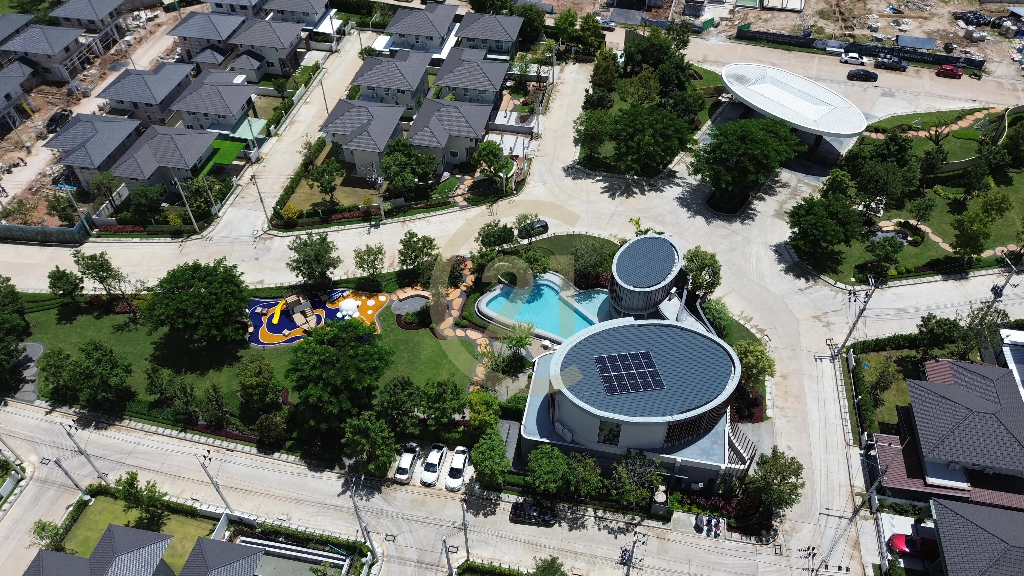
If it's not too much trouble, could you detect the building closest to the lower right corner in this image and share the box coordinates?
[885,497,1024,576]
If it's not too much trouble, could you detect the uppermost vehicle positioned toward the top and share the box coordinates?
[595,14,620,29]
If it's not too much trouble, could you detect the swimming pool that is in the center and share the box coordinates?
[474,271,611,351]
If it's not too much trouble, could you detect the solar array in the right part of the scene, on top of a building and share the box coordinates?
[593,351,666,394]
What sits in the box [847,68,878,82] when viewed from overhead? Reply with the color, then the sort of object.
black car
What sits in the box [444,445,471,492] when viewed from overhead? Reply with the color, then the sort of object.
white car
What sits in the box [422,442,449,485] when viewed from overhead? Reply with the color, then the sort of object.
white car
